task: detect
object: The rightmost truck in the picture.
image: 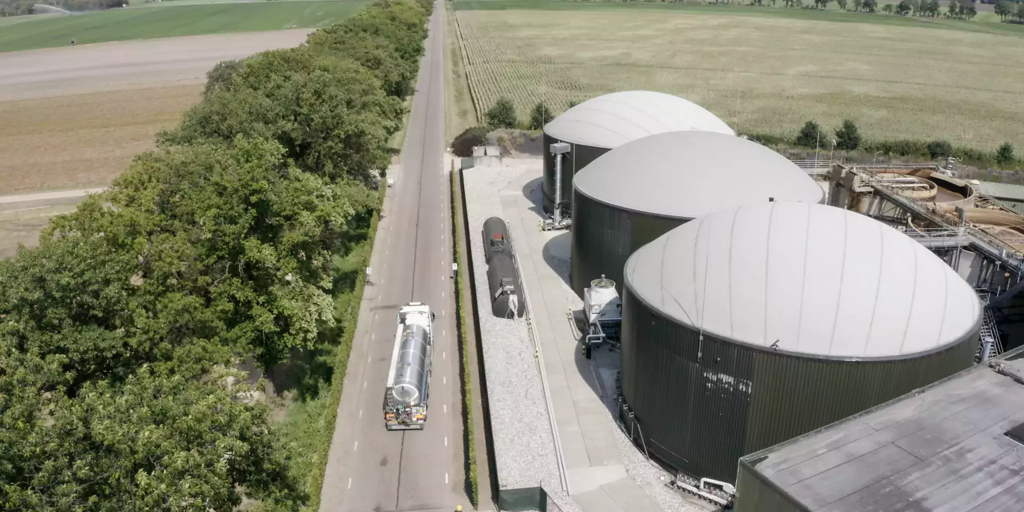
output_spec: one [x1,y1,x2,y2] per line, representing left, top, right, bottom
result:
[385,304,436,432]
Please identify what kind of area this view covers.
industrial area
